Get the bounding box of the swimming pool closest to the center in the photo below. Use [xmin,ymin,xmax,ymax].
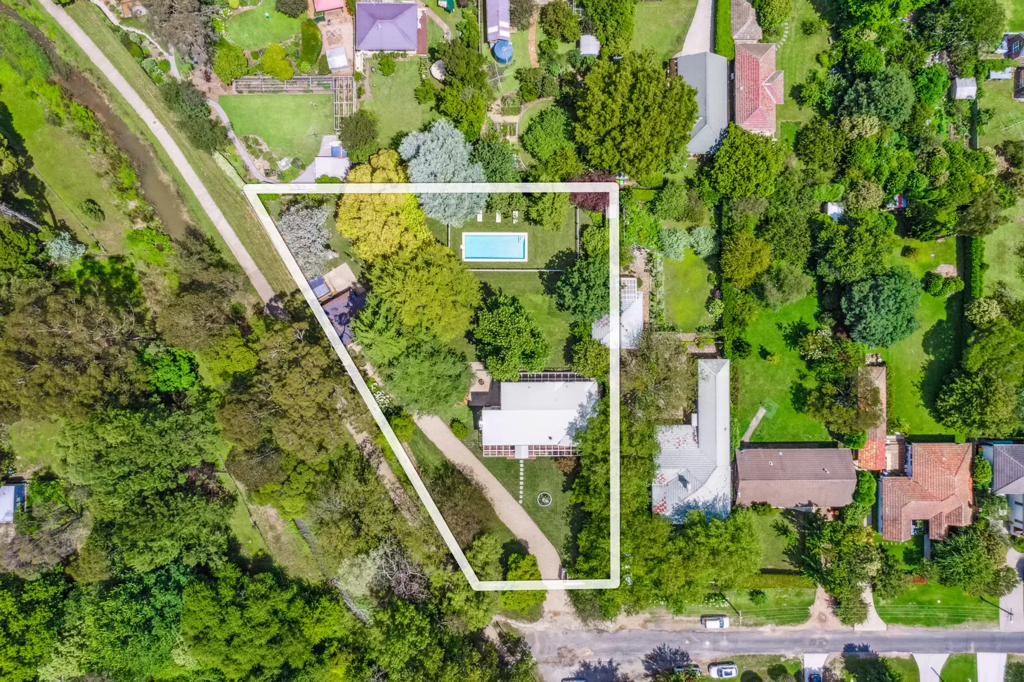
[459,232,528,262]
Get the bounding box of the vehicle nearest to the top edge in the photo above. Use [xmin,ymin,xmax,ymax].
[700,616,730,631]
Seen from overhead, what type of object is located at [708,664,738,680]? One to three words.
car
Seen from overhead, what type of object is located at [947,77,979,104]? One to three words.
shed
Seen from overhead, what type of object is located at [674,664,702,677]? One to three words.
vehicle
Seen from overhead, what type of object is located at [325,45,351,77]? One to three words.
shed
